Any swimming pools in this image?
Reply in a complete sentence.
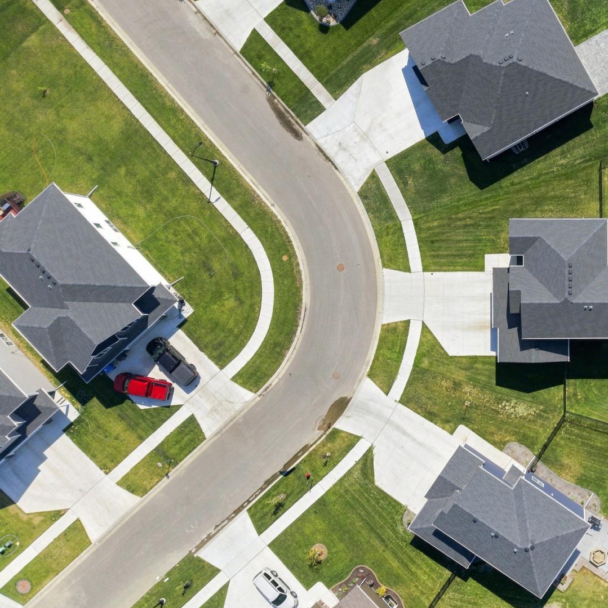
No, there isn't any swimming pool down there.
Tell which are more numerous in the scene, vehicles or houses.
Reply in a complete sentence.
The houses are the larger group, ahead of the vehicles.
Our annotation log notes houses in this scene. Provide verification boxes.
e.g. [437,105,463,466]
[406,444,593,600]
[0,331,68,465]
[334,582,389,608]
[492,218,608,363]
[398,0,600,166]
[0,182,184,385]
